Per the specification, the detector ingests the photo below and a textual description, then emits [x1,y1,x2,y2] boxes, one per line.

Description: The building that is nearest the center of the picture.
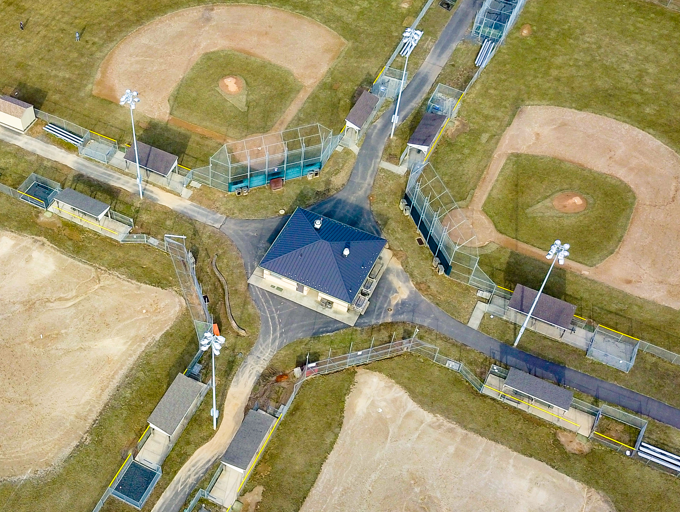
[256,206,389,312]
